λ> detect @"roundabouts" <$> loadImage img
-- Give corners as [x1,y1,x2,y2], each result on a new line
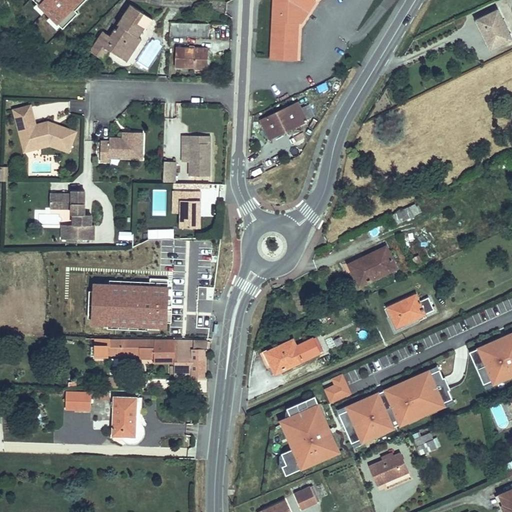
[229,201,318,296]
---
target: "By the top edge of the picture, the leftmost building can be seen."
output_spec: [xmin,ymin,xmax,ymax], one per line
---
[34,0,87,43]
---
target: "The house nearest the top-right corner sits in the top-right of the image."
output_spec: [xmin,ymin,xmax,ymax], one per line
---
[474,10,512,51]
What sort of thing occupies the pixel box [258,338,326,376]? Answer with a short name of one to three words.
house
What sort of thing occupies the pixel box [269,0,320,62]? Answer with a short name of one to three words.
building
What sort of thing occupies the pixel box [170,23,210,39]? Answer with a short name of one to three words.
building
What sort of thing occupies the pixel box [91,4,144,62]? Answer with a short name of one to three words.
house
